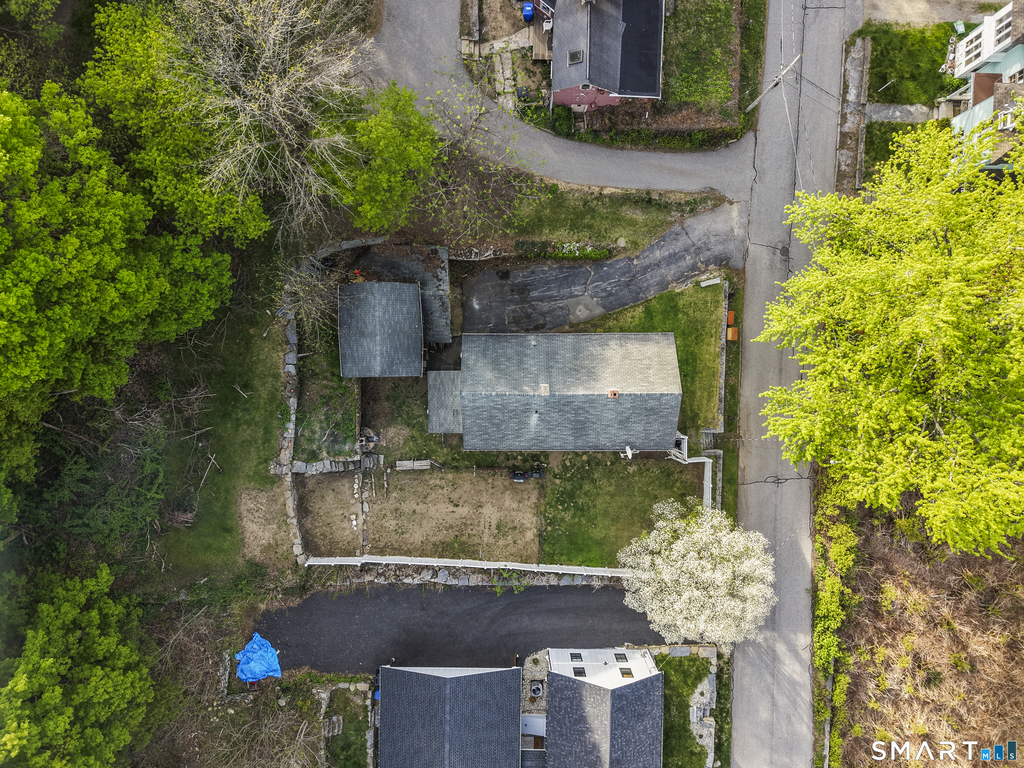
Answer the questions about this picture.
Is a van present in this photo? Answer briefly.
No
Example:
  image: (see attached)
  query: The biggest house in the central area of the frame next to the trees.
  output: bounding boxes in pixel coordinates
[428,331,688,463]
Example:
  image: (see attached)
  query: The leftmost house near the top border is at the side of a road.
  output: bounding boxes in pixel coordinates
[529,0,664,116]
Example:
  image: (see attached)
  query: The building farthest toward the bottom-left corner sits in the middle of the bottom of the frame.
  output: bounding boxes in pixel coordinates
[378,650,522,768]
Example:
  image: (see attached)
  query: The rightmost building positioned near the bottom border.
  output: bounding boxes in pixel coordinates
[521,650,664,768]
